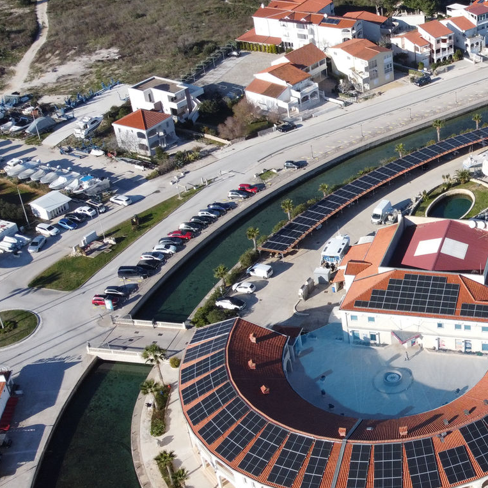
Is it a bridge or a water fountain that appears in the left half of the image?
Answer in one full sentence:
The feature located in the left half of the image is a bridge.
